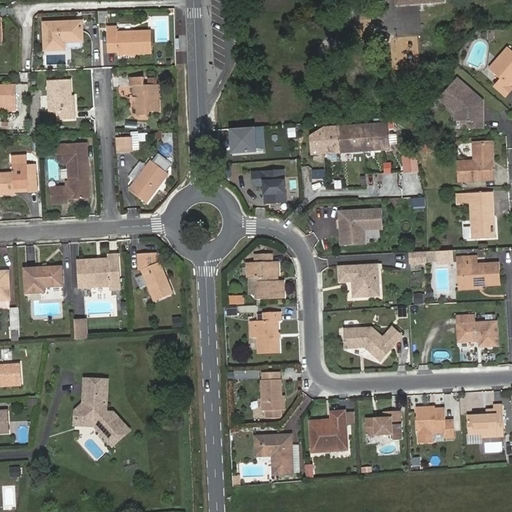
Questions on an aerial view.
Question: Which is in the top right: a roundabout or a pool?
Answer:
pool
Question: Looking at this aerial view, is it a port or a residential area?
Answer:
residential area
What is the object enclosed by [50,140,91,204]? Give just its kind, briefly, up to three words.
house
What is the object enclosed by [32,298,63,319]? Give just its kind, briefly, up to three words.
swimming pool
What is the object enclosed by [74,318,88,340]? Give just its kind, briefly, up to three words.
building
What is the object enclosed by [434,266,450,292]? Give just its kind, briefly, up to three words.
swimming pool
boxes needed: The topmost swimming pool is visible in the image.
[154,18,168,41]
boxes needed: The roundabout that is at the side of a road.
[164,183,242,261]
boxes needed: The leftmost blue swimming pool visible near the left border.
[14,424,28,444]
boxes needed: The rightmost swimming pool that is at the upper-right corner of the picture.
[464,40,489,68]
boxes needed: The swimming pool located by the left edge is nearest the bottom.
[2,486,14,510]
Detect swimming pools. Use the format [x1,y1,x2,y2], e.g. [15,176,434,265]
[86,300,112,314]
[84,438,103,457]
[32,298,63,319]
[14,424,28,444]
[289,179,297,190]
[464,40,489,68]
[46,54,65,64]
[484,442,503,454]
[46,158,60,182]
[241,464,264,477]
[429,454,441,466]
[430,348,452,362]
[434,266,450,292]
[154,18,168,41]
[378,444,396,454]
[2,486,14,510]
